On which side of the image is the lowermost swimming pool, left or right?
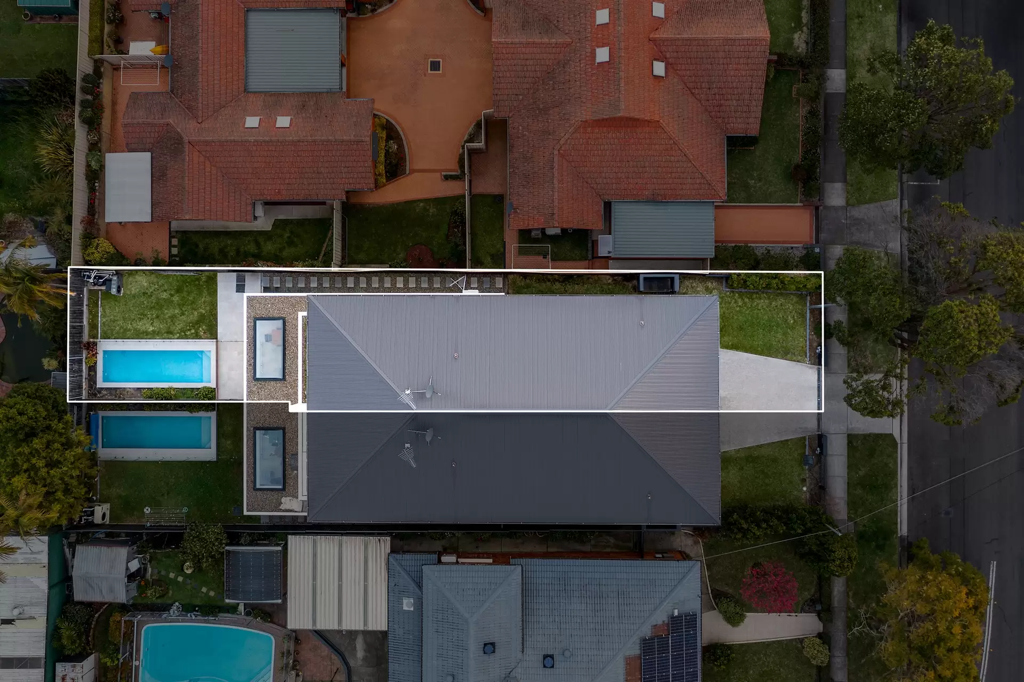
left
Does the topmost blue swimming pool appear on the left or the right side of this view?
left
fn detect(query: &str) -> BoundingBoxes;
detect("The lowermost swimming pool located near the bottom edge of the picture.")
[138,621,275,682]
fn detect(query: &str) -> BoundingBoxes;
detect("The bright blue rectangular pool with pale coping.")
[98,340,217,388]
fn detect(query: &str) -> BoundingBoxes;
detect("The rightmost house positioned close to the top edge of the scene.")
[492,0,770,231]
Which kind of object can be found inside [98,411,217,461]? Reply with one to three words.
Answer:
swimming pool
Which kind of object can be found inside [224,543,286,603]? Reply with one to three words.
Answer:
shed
